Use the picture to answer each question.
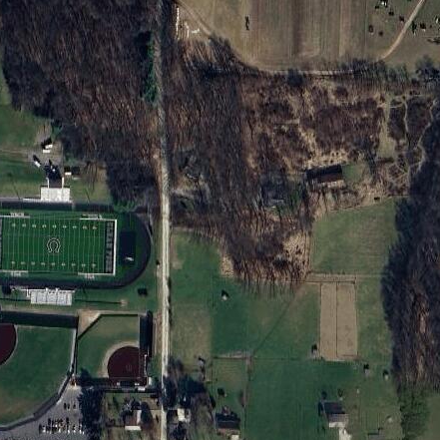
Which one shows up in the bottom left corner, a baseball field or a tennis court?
baseball field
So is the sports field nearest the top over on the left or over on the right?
left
